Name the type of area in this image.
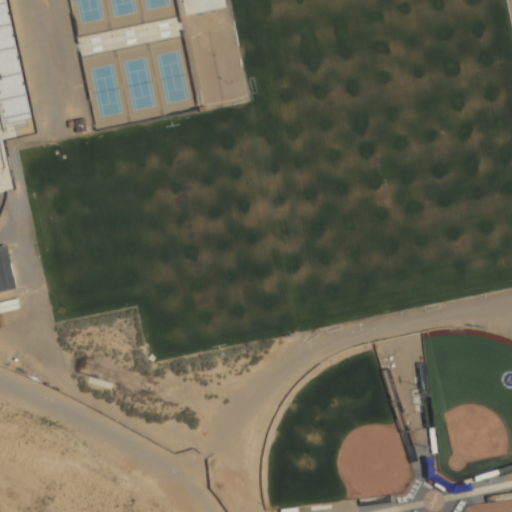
sports ground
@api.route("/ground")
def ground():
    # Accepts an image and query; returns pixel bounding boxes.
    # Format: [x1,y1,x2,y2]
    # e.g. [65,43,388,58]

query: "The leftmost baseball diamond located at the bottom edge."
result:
[268,350,412,506]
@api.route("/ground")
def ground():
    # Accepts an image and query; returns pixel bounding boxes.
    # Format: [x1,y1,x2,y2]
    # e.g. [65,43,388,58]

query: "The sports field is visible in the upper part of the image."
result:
[20,0,512,362]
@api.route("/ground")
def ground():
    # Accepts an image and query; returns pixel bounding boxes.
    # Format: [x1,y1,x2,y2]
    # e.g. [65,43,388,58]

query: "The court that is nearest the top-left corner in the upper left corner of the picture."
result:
[70,0,110,38]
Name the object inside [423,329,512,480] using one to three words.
baseball field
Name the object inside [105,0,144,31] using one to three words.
tennis court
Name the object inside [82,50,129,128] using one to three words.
tennis court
